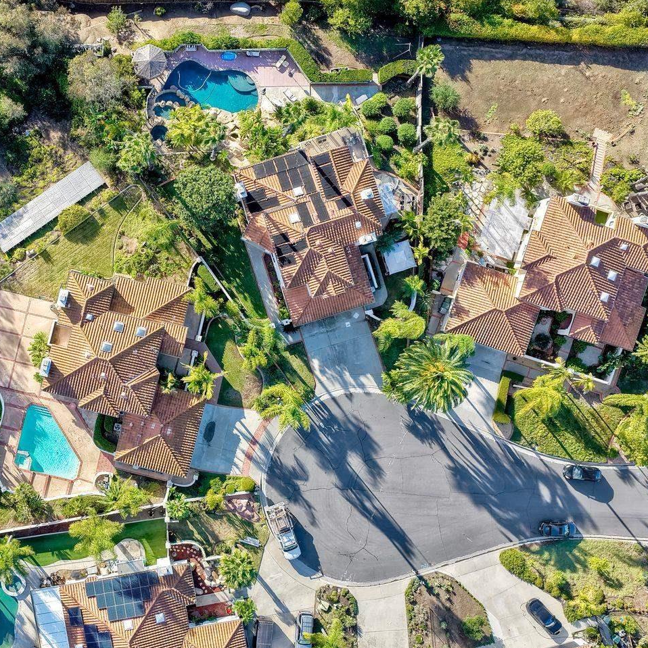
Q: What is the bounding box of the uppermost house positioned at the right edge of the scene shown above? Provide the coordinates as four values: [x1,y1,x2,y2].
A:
[445,191,648,358]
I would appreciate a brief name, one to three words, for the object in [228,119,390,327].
house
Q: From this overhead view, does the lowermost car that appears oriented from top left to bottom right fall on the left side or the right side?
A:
right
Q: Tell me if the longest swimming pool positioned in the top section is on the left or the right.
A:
left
